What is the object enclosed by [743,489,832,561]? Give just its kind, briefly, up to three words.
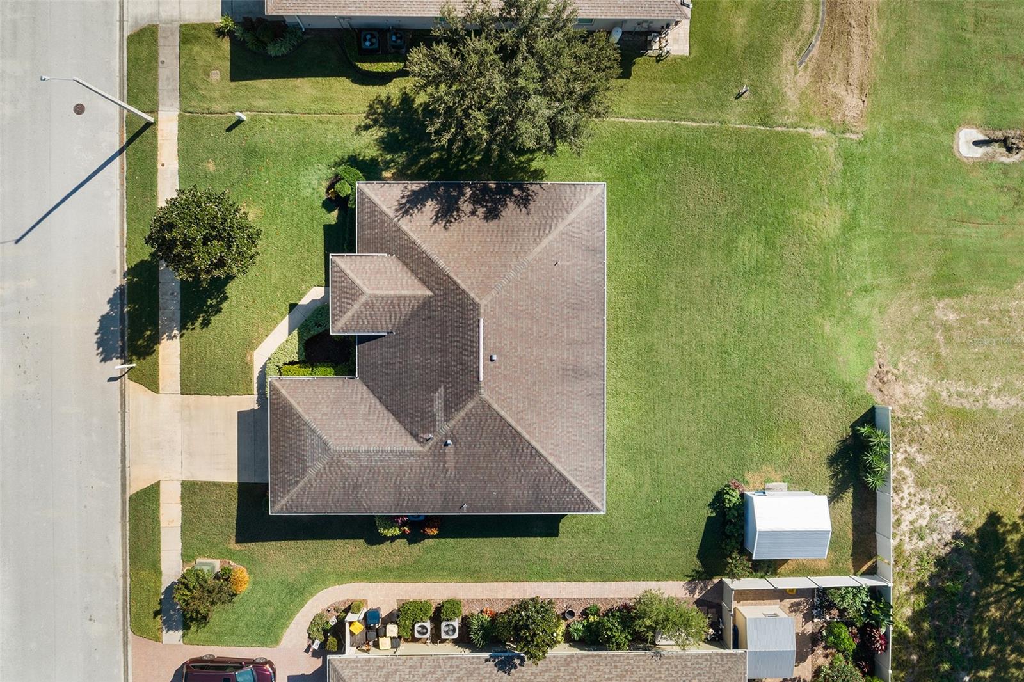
shed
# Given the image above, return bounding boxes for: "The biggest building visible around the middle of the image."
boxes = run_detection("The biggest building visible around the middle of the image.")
[267,180,608,516]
